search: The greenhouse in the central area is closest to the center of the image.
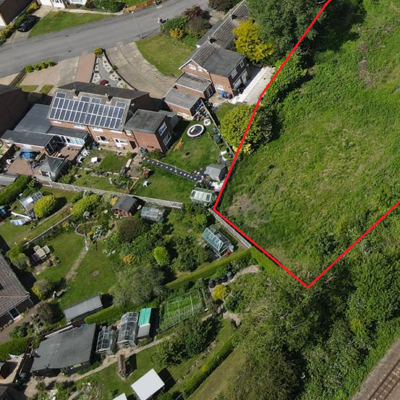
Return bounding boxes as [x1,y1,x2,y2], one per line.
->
[185,186,218,211]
